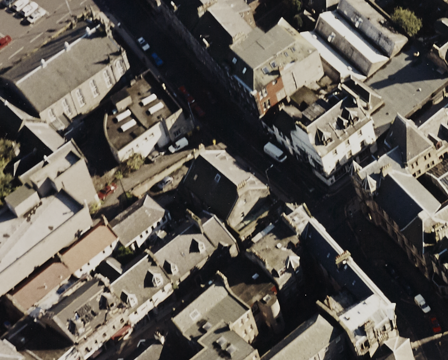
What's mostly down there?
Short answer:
buildings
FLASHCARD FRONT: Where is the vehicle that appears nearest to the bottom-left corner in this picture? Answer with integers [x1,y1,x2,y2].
[98,184,116,198]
